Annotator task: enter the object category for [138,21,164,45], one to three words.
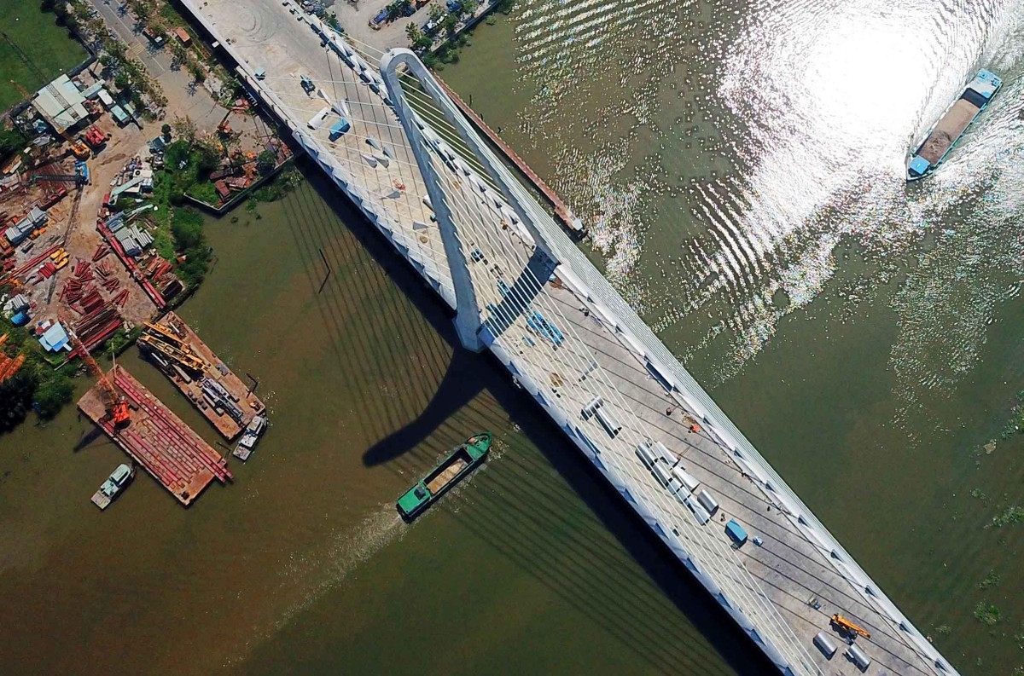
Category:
truck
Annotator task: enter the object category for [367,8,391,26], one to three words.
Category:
vehicle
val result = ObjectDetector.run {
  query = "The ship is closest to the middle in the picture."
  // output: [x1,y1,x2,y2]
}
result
[392,432,493,524]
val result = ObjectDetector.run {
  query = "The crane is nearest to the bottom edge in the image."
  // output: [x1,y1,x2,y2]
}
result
[55,313,132,427]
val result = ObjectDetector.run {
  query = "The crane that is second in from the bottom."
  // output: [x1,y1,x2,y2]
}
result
[29,152,96,197]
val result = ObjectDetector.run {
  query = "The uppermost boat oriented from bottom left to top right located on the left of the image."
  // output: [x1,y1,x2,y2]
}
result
[233,414,269,462]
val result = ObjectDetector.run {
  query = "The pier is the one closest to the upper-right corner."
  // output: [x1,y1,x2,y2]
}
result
[435,72,592,241]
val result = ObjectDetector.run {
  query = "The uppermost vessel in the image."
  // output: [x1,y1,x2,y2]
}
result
[902,66,1008,184]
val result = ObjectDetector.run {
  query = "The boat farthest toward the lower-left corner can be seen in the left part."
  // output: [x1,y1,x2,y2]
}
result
[89,464,134,512]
